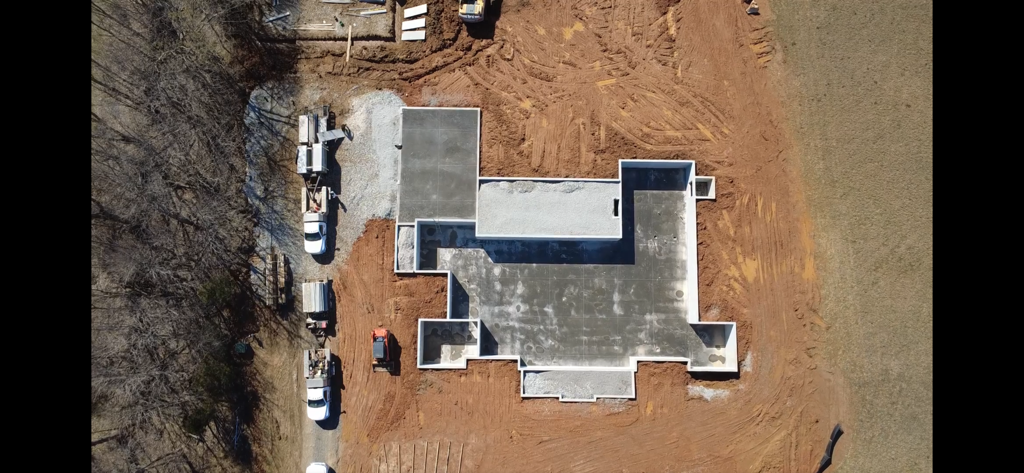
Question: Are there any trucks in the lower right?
No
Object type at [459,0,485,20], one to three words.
work vehicle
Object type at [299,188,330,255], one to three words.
truck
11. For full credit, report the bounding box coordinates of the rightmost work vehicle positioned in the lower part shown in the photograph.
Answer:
[371,329,394,373]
